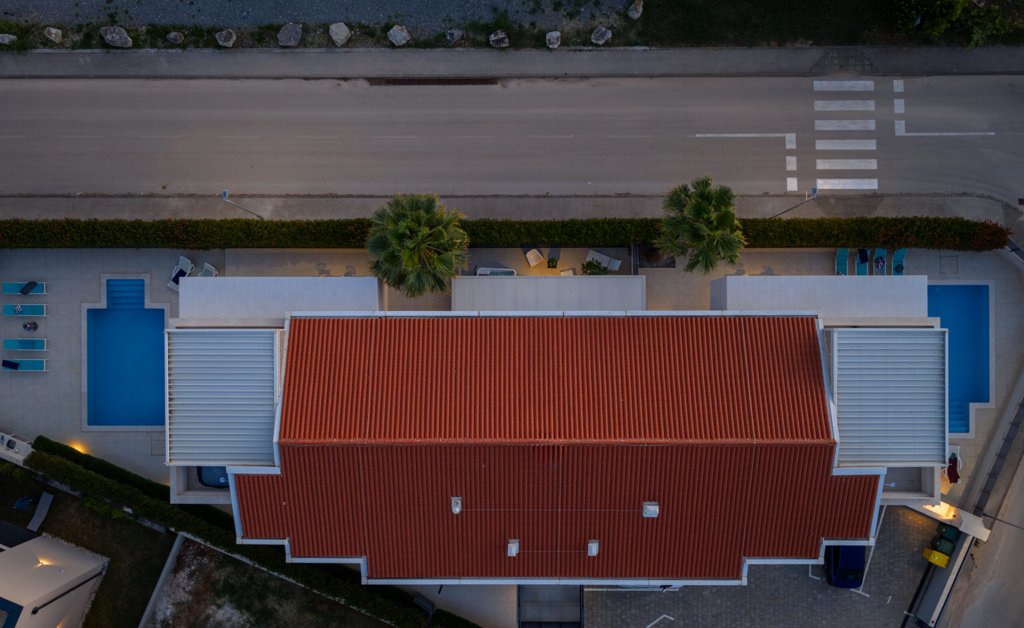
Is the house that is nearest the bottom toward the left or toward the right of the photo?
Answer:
left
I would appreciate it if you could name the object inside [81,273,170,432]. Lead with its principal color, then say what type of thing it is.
blue swimming pool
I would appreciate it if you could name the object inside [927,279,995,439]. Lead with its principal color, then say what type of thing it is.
blue swimming pool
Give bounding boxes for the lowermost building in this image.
[0,523,102,628]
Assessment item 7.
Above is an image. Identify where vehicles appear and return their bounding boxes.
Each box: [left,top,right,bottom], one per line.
[603,585,683,595]
[821,538,864,589]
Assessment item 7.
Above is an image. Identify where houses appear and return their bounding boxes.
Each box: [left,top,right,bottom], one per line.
[225,311,889,586]
[0,523,102,628]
